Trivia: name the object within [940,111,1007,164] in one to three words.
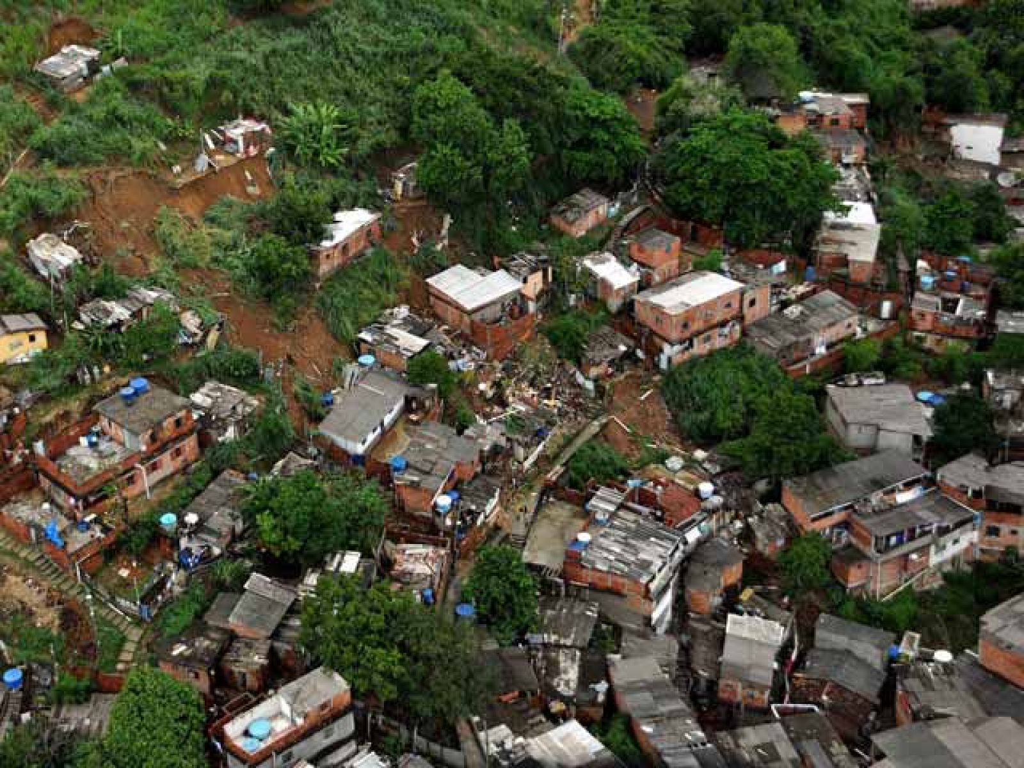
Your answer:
house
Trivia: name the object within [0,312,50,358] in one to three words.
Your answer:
house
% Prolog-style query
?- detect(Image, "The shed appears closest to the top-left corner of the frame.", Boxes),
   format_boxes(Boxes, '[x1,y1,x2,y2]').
[34,43,101,91]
